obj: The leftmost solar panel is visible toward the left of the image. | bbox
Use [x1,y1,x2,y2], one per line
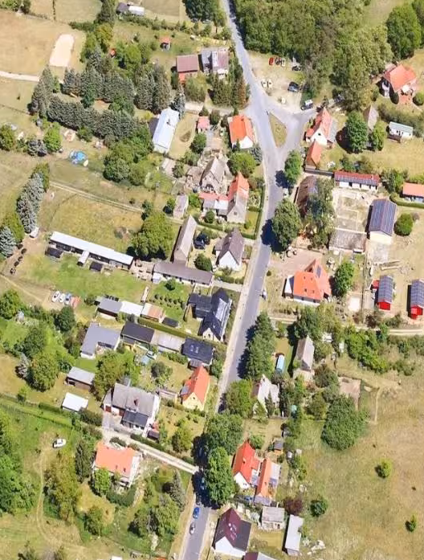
[124,412,147,427]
